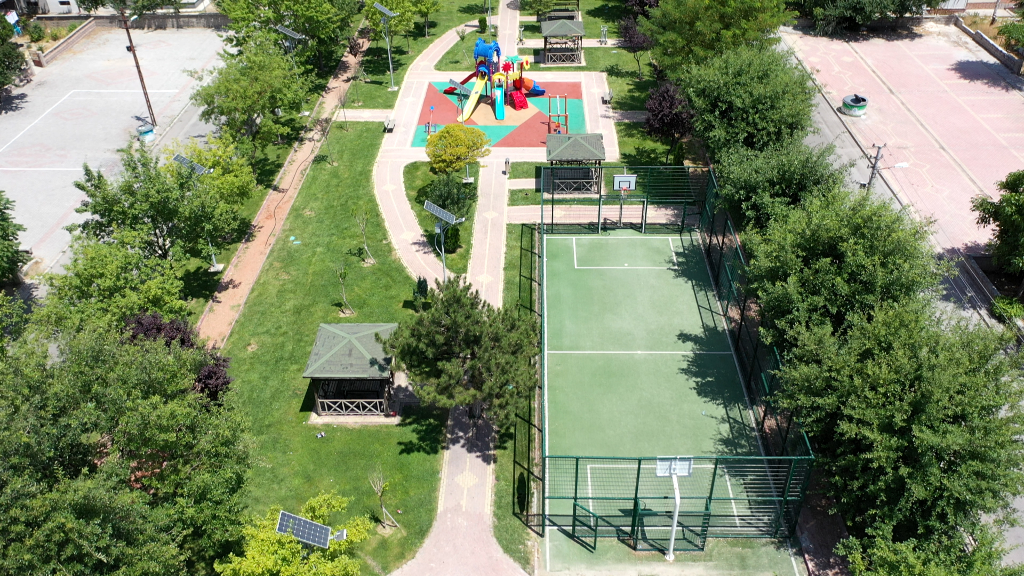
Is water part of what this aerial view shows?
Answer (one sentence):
No, the scene doesn't show any water.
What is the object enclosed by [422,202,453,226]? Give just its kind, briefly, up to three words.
solar panel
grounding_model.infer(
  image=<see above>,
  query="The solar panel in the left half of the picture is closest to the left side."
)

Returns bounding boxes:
[171,160,204,181]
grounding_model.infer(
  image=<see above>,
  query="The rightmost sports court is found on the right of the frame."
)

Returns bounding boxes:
[543,224,808,576]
